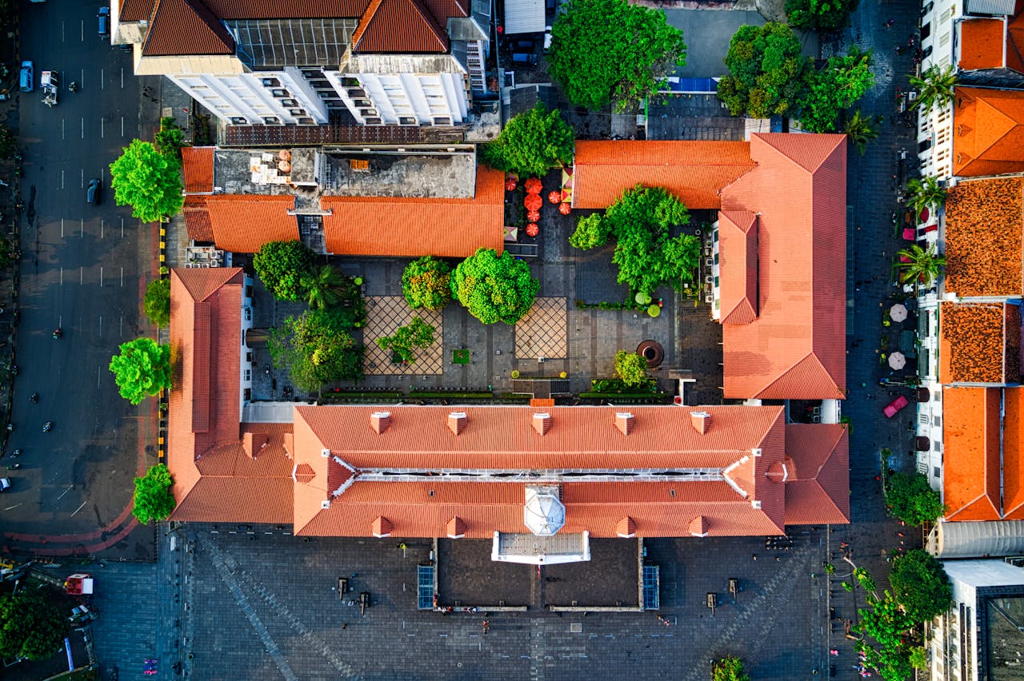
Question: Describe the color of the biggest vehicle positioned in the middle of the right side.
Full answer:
The biggest vehicle positioned in the middle of the right side is pink.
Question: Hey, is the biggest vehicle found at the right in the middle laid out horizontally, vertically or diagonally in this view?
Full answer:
I'd say the biggest vehicle found at the right in the middle is aligned diagonally in the picture.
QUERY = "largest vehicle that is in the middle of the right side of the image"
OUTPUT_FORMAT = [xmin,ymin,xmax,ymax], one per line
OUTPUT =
[882,393,912,420]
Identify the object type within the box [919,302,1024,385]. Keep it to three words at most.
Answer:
house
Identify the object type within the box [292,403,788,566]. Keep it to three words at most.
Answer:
building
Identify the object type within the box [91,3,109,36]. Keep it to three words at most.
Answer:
car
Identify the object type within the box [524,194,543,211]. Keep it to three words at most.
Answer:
umbrella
